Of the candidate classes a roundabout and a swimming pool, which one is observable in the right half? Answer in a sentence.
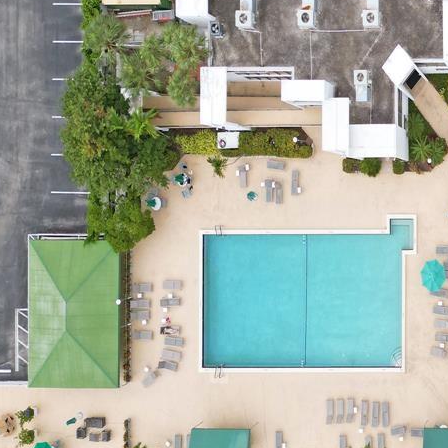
Looking in the right half, you will find a swimming pool.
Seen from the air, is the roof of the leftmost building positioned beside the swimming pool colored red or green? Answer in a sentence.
The roof of the leftmost building positioned beside the swimming pool looks green in the image.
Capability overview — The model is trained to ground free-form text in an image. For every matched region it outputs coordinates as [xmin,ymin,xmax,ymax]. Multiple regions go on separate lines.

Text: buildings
[176,0,448,160]
[28,231,132,388]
